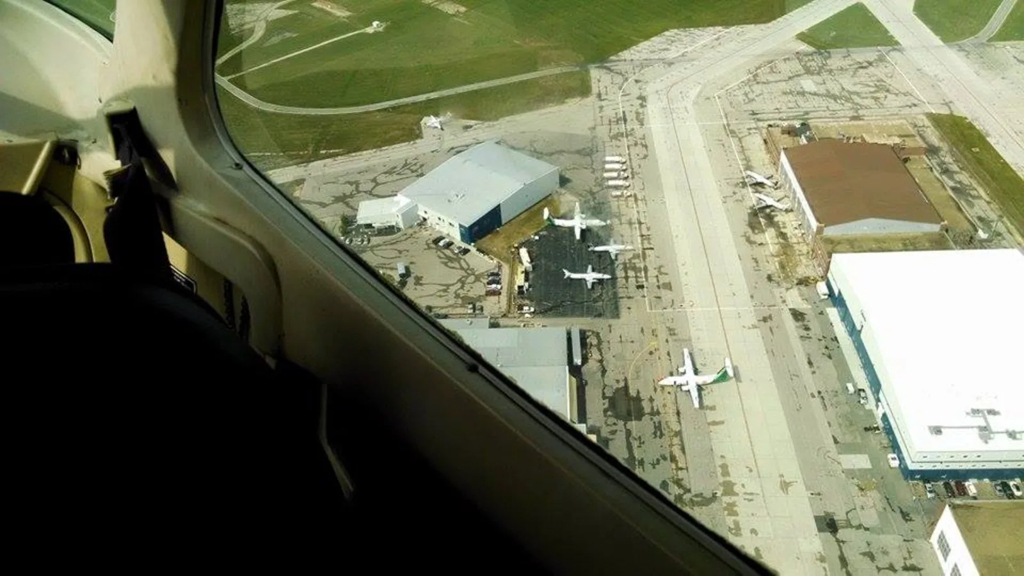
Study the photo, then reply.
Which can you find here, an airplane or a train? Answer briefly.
airplane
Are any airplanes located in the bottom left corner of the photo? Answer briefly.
No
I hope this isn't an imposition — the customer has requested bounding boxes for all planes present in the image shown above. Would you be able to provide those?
[587,236,636,263]
[753,191,785,210]
[545,202,606,239]
[745,169,776,188]
[427,115,449,128]
[660,348,736,407]
[561,262,611,291]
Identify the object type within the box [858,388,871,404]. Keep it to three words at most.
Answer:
vehicle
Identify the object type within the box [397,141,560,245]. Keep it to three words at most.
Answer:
hangar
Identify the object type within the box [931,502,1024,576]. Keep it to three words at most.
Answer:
hangar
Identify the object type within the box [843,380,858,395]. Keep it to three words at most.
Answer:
vehicle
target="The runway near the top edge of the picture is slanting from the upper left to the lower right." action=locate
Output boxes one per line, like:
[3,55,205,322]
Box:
[861,0,1024,182]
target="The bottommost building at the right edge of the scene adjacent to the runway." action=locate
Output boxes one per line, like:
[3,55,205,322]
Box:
[824,250,1024,484]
